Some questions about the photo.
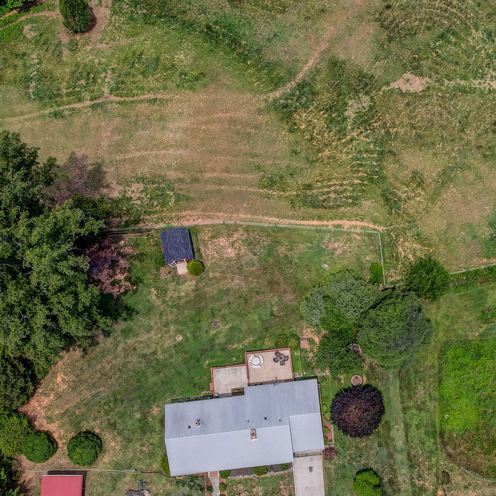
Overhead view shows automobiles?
No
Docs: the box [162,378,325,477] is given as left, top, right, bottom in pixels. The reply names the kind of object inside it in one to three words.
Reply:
house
